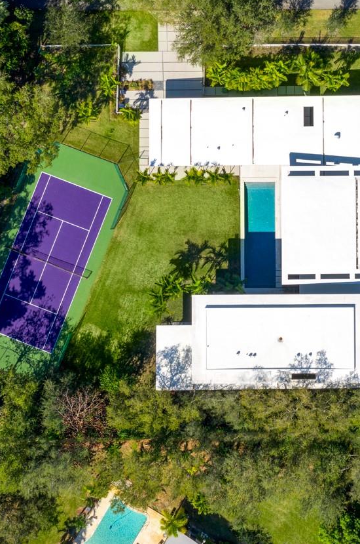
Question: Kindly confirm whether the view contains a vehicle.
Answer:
No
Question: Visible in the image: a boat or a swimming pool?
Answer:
swimming pool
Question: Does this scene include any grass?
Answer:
Yes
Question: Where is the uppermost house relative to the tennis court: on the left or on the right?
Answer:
on the right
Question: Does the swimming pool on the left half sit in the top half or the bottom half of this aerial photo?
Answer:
bottom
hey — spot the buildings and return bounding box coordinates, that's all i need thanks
[165,529,214,544]
[149,97,360,390]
